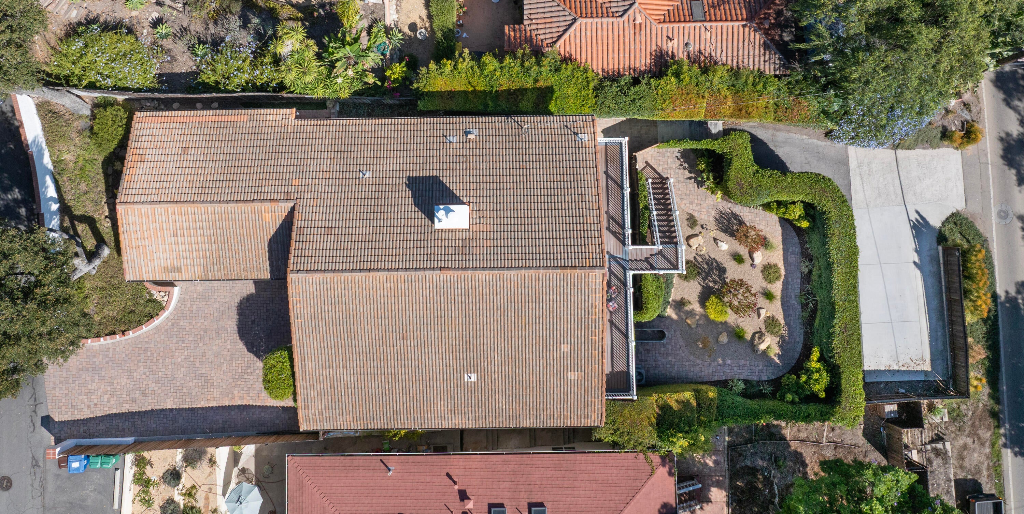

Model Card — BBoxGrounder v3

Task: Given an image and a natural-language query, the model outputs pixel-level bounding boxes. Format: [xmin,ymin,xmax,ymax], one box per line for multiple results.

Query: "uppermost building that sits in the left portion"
[113,106,609,435]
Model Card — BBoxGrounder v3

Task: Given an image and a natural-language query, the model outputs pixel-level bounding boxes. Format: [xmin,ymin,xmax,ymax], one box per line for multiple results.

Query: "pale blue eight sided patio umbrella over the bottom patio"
[222,476,268,514]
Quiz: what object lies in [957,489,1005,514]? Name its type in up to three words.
truck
